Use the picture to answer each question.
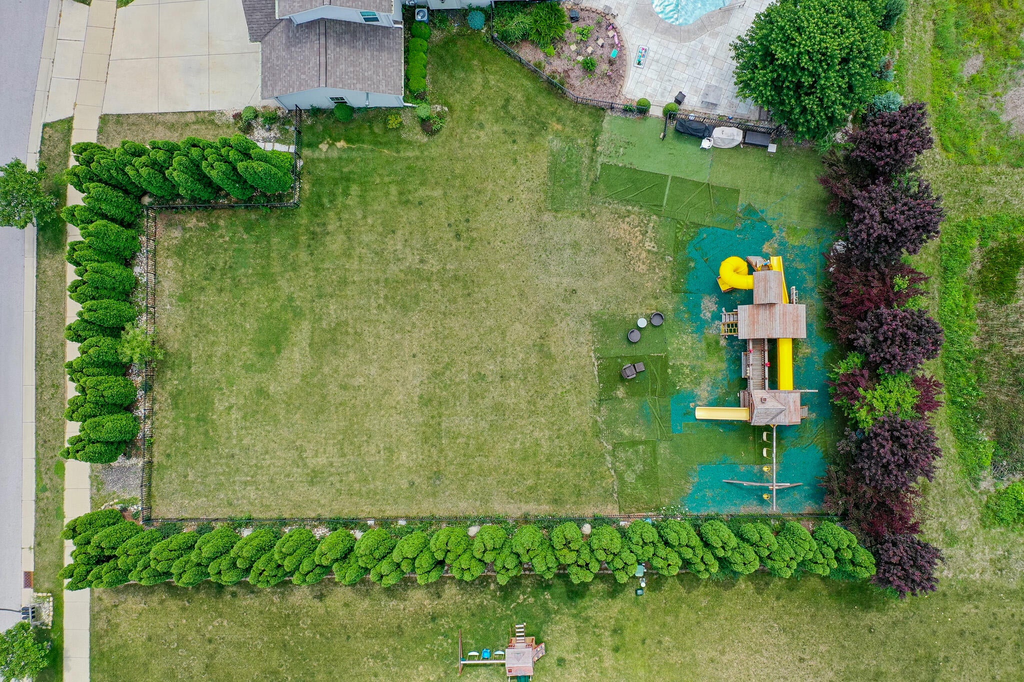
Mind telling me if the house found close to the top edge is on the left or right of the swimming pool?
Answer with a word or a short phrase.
on the left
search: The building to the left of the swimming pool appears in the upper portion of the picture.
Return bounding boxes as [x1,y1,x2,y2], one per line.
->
[241,0,494,111]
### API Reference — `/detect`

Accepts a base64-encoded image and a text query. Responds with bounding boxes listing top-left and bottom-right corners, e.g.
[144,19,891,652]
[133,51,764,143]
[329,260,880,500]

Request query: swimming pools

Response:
[629,0,746,42]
